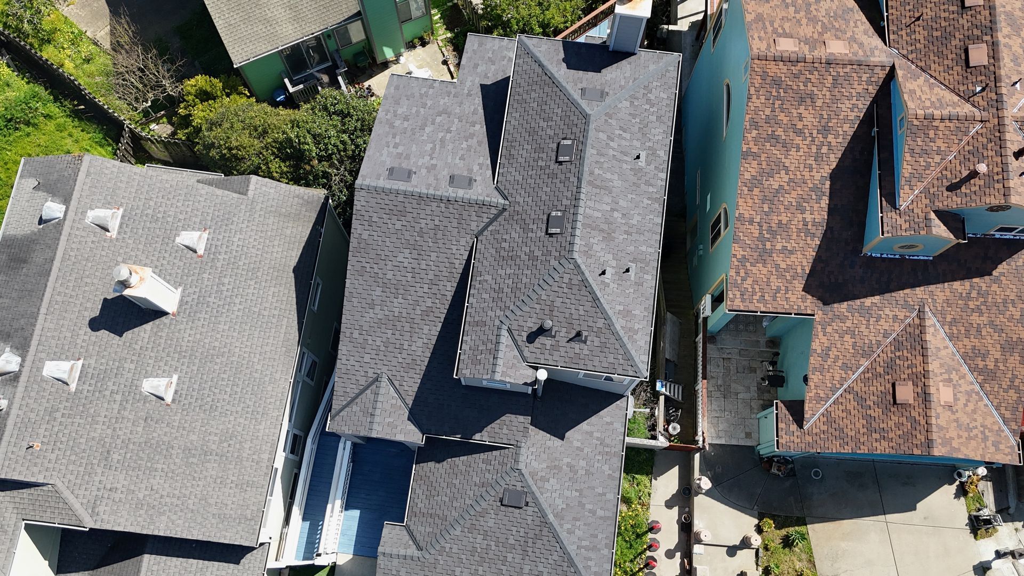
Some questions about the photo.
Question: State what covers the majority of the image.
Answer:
buildings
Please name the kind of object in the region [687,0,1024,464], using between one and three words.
house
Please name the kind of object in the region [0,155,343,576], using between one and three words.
house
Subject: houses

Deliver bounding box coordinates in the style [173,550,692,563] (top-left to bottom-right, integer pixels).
[687,0,1024,464]
[325,0,683,576]
[0,155,343,576]
[205,0,434,99]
